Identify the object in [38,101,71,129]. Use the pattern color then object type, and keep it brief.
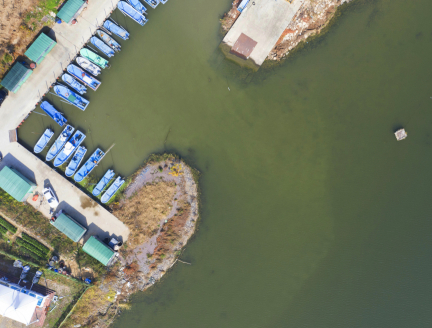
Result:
blue boat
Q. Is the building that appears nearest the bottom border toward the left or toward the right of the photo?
left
